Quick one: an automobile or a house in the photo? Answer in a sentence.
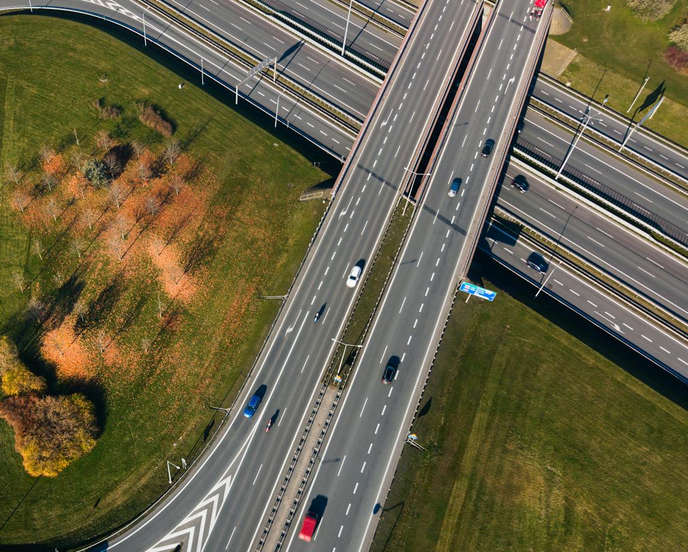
It is an automobile that can be seen here.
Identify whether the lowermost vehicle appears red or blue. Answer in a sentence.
The lowermost vehicle is red.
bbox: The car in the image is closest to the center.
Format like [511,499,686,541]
[348,266,364,287]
